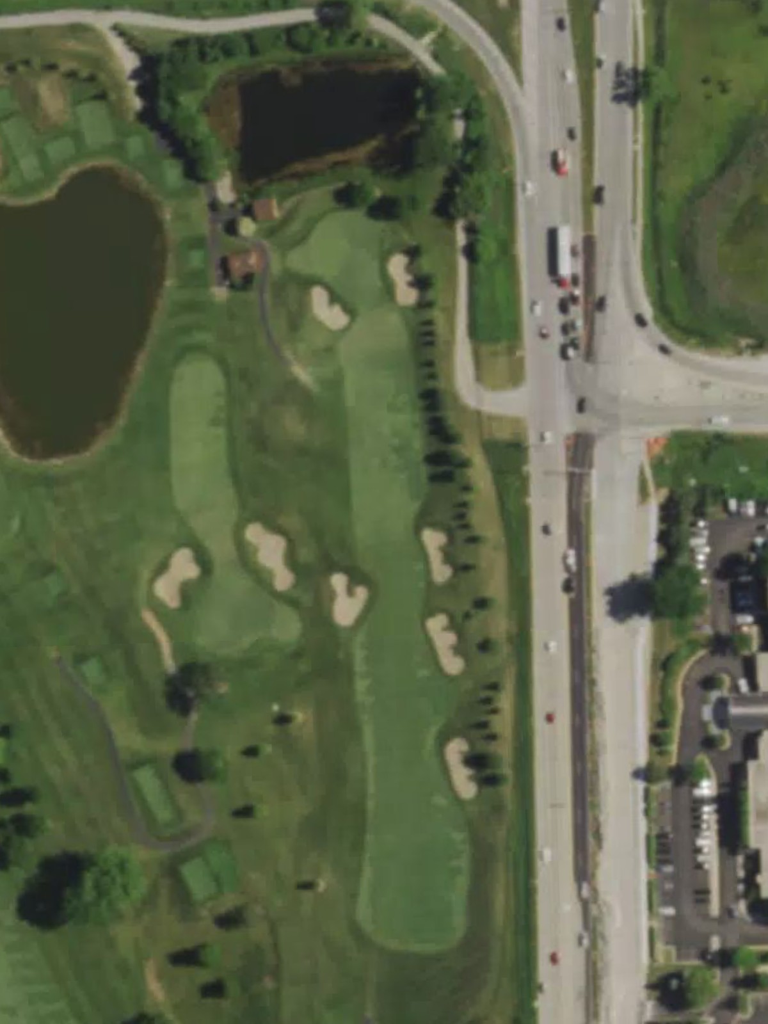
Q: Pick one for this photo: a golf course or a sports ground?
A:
golf course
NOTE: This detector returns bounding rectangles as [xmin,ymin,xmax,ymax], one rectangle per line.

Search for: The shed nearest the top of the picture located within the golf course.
[253,198,274,219]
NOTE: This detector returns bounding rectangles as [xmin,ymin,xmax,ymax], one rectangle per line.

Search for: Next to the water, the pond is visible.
[238,66,423,182]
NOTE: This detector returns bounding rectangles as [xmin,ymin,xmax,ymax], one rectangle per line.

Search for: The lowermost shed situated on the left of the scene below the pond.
[228,248,261,273]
